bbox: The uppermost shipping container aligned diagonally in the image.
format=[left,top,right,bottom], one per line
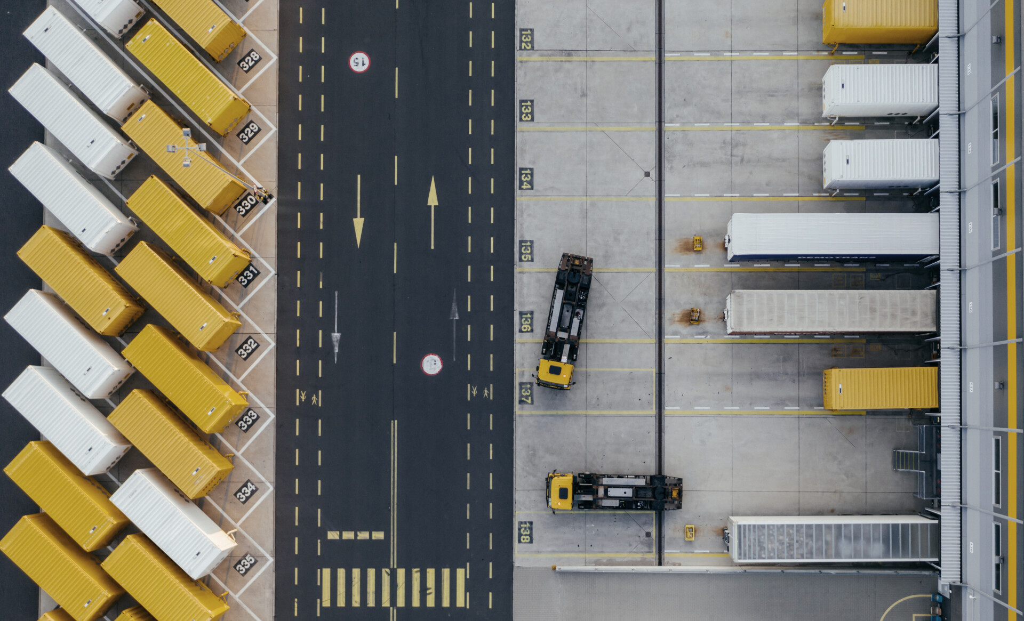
[153,0,246,62]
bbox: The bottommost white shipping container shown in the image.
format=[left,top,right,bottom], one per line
[110,468,237,580]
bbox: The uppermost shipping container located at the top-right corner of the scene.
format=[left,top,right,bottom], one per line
[822,0,938,59]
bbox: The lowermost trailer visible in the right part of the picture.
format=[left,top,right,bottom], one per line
[725,517,940,563]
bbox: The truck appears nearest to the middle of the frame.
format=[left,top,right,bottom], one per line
[530,255,593,391]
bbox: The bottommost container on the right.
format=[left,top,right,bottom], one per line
[823,368,939,411]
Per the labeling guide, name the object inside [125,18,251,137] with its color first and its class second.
yellow shipping container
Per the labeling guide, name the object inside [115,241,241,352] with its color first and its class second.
yellow shipping container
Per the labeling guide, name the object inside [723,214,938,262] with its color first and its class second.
white trailer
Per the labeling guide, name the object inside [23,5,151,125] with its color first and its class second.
white shipping container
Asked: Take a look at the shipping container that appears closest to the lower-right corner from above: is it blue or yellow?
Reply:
yellow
